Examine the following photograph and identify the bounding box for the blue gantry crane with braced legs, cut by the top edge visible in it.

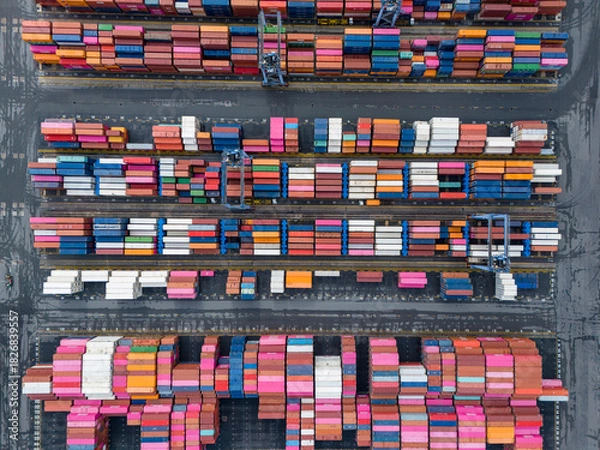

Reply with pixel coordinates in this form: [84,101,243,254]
[370,0,405,29]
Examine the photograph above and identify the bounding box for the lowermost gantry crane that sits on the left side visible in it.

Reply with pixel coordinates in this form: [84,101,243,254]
[221,147,254,212]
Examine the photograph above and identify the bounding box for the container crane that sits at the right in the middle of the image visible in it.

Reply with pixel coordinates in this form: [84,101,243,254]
[465,213,512,273]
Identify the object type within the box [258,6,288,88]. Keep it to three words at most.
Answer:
container crane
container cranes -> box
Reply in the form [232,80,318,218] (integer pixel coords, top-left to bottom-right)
[221,147,254,212]
[465,213,512,273]
[258,6,288,88]
[370,0,405,29]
